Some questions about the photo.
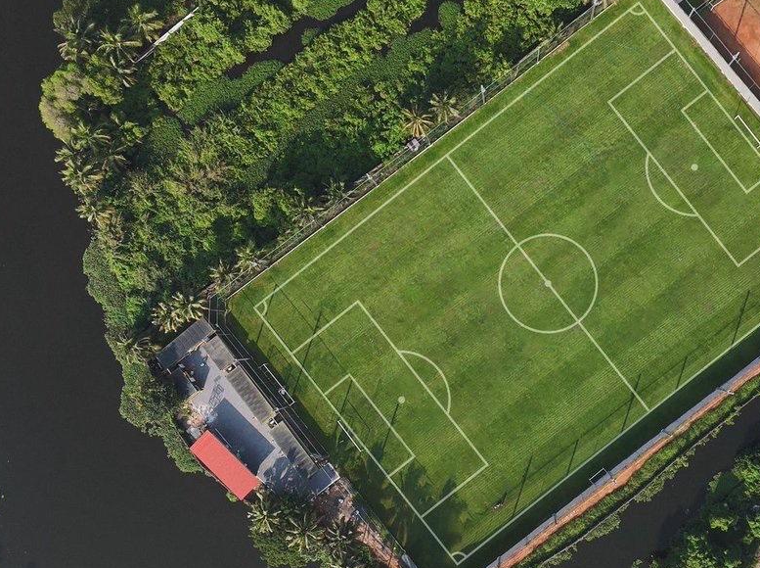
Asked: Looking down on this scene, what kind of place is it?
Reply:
sports ground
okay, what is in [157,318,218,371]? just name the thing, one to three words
shed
